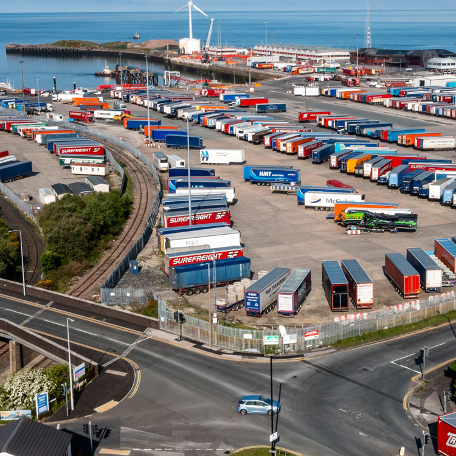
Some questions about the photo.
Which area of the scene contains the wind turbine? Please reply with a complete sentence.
The wind turbine is in the top part of the image.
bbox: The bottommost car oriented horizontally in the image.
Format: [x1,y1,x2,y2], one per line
[238,396,278,414]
